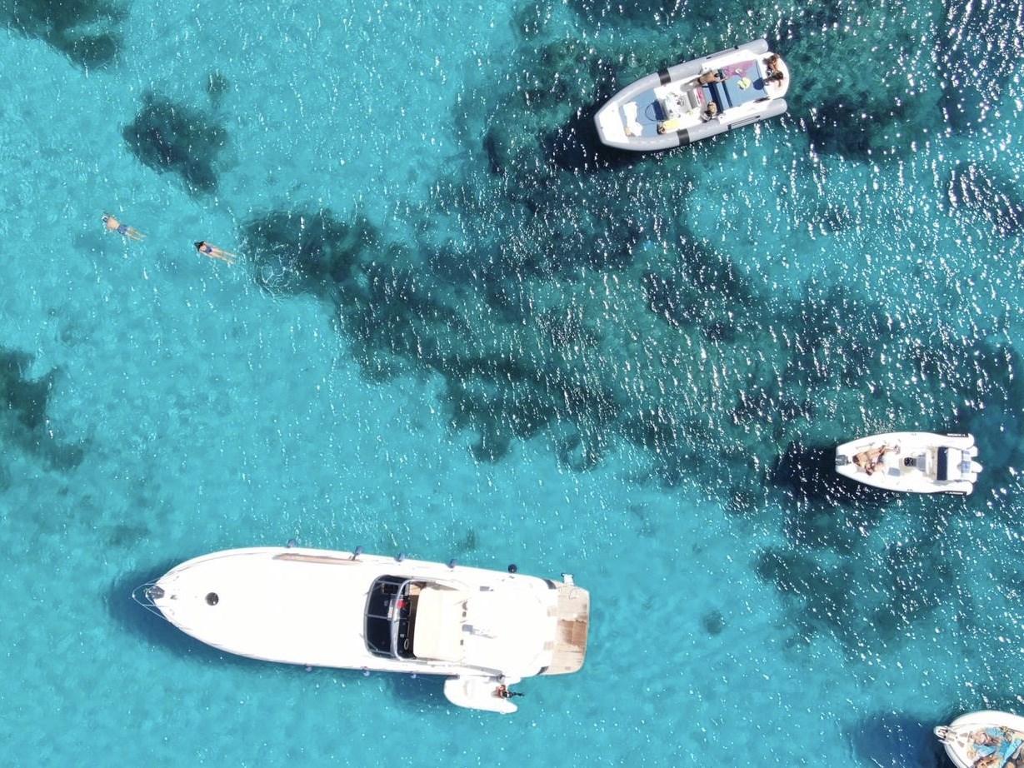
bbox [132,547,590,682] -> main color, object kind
white boat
